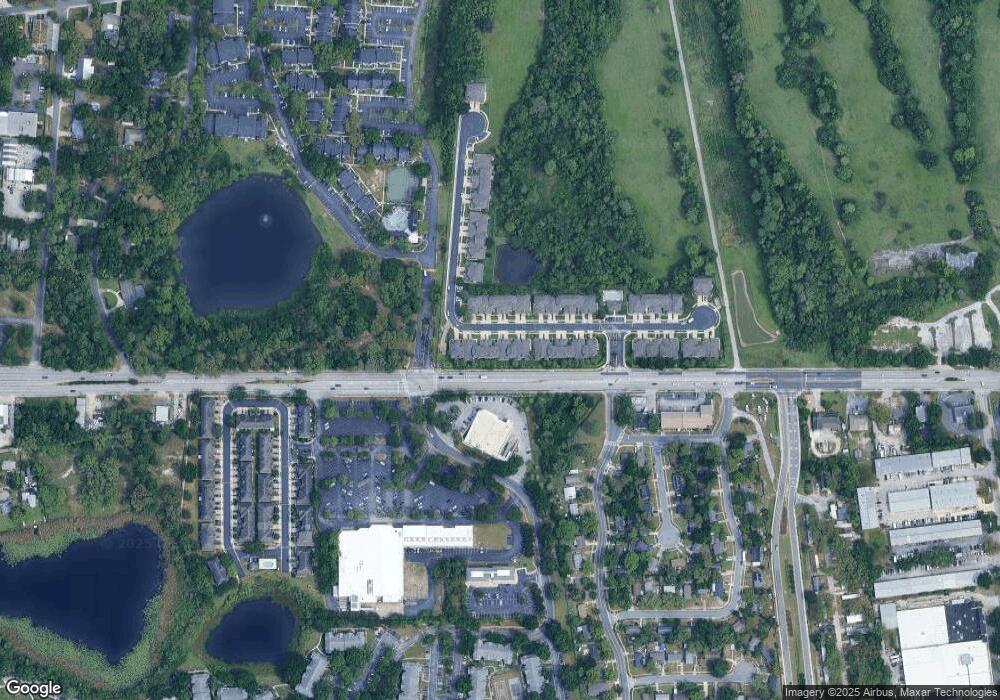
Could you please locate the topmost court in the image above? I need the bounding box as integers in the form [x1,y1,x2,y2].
[388,167,407,201]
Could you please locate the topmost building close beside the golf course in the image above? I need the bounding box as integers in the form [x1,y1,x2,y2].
[466,82,486,104]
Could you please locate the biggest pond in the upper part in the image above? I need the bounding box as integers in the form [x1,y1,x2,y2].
[494,243,541,284]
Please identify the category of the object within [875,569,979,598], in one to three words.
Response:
building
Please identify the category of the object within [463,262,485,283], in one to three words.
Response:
house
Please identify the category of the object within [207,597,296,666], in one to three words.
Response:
pond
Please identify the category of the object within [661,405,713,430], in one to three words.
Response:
building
